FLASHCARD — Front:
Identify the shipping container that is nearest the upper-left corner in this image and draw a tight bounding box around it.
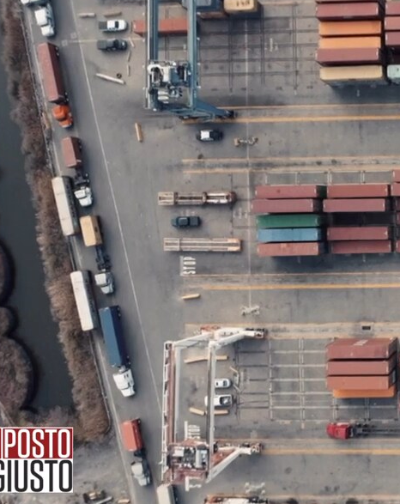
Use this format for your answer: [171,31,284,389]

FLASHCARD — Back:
[38,42,68,104]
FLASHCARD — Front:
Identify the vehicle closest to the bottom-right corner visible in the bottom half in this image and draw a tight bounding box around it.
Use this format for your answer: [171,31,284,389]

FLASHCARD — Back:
[327,421,400,438]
